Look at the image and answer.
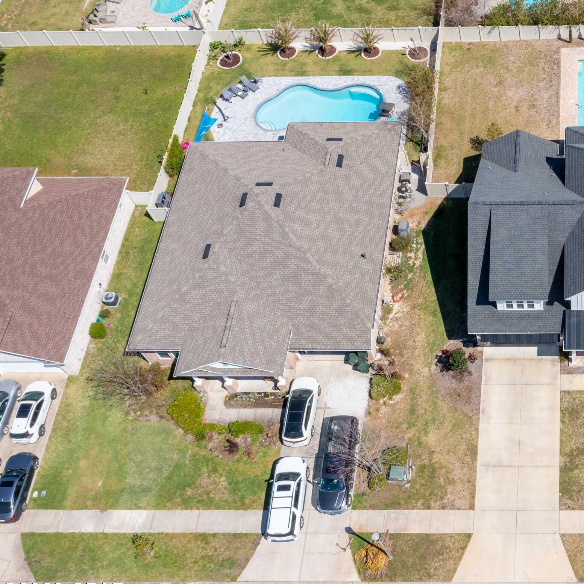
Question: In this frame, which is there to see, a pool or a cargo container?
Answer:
pool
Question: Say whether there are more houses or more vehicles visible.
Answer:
vehicles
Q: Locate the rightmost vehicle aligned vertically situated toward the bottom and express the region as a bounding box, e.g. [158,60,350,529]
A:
[312,422,356,513]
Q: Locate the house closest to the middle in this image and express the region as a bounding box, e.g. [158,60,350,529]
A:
[131,120,404,391]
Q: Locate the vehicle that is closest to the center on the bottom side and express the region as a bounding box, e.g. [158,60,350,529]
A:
[278,374,320,445]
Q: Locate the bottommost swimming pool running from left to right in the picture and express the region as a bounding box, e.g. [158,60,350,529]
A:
[252,82,388,133]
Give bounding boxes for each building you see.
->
[467,125,584,366]
[0,166,130,376]
[131,120,404,391]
